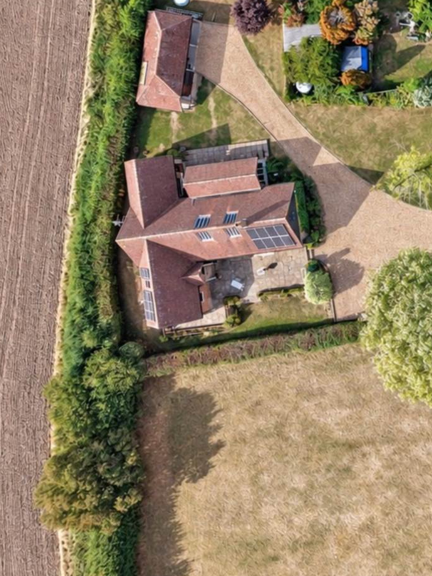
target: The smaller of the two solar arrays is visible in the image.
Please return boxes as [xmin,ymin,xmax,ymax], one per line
[143,290,156,322]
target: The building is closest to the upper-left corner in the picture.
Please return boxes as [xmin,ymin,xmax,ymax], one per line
[136,9,202,110]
